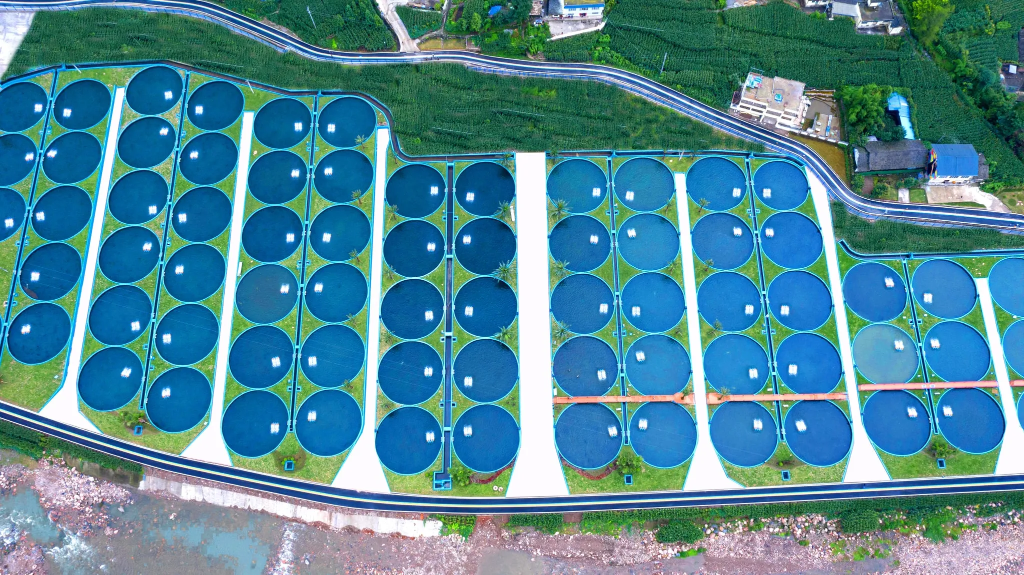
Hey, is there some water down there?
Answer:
Yes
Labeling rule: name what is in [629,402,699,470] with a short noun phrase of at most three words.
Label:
pond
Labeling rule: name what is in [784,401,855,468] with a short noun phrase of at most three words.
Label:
pond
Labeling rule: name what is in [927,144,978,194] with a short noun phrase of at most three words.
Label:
house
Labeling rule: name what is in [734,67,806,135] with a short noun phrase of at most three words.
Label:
house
